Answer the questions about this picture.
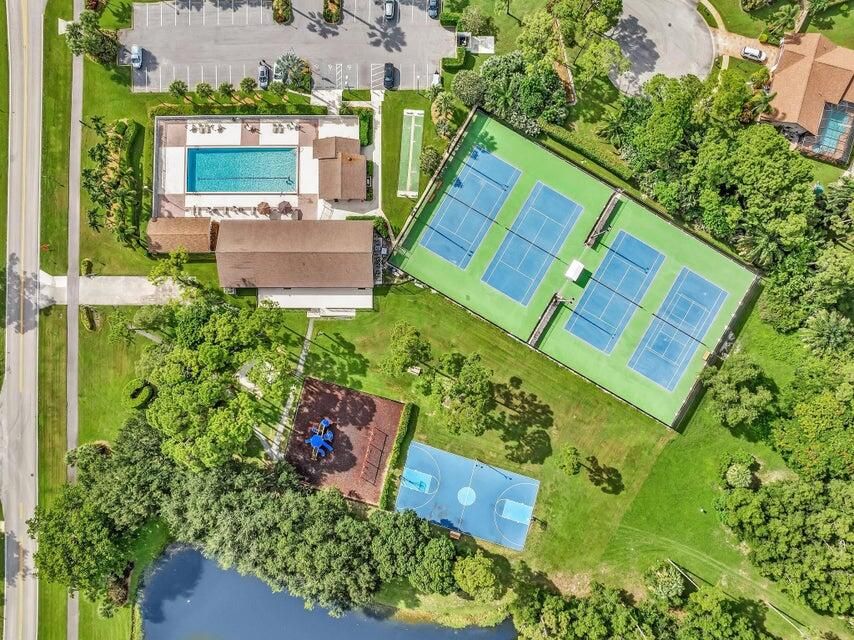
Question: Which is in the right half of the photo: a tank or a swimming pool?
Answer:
swimming pool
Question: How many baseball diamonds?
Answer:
0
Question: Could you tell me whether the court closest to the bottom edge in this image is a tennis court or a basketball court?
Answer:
basketball court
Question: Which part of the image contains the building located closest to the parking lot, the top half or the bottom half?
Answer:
top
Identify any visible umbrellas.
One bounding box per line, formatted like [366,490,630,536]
[258,202,271,215]
[294,209,305,219]
[279,201,292,214]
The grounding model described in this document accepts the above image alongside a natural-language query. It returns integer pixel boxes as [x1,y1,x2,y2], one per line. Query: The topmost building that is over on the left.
[313,137,366,199]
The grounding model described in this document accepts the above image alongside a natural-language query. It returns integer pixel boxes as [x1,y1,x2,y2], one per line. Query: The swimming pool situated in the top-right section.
[817,106,850,150]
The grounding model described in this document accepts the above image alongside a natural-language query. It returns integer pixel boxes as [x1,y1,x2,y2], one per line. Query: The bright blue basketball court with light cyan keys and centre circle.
[394,444,540,547]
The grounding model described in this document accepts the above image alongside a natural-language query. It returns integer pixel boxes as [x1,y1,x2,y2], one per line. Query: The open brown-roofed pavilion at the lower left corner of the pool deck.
[146,218,213,252]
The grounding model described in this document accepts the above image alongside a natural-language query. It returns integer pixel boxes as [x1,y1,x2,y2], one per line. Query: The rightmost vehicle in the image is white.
[741,45,766,62]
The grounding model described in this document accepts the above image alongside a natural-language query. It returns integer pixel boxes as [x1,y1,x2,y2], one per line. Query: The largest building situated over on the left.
[216,219,373,309]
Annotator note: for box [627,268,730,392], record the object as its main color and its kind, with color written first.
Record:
blue tennis court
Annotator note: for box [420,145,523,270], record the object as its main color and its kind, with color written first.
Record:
blue tennis court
